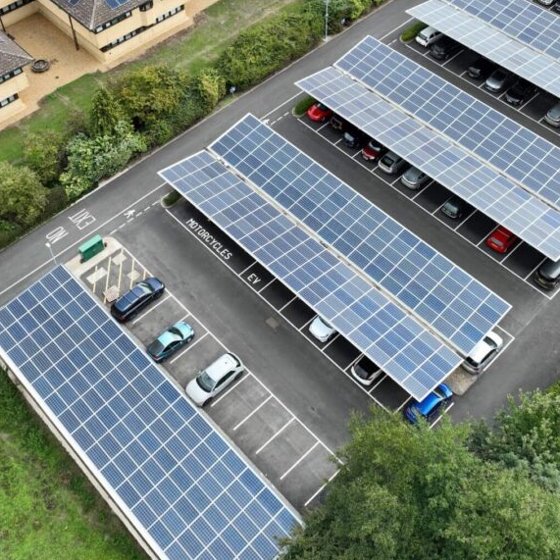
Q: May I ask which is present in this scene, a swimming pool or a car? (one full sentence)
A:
The image shows a car.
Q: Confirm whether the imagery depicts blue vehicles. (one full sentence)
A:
Yes, the picture does show a blue vehicle.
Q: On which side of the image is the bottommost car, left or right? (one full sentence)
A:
The bottommost car is on the right side of the image.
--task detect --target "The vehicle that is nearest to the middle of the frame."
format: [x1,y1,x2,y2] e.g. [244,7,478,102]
[311,316,338,341]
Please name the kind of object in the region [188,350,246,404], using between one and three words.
car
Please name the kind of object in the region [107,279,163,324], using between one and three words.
car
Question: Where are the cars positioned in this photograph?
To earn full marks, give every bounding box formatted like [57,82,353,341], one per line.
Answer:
[107,279,163,324]
[380,152,410,177]
[464,329,505,370]
[403,382,454,431]
[487,225,520,254]
[401,166,431,190]
[547,103,560,127]
[311,316,338,341]
[486,66,520,92]
[188,350,246,404]
[432,35,464,59]
[361,139,391,163]
[329,114,353,134]
[443,194,473,220]
[307,102,335,124]
[507,77,539,102]
[534,258,560,288]
[145,315,200,364]
[344,126,371,149]
[413,25,445,49]
[471,56,501,77]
